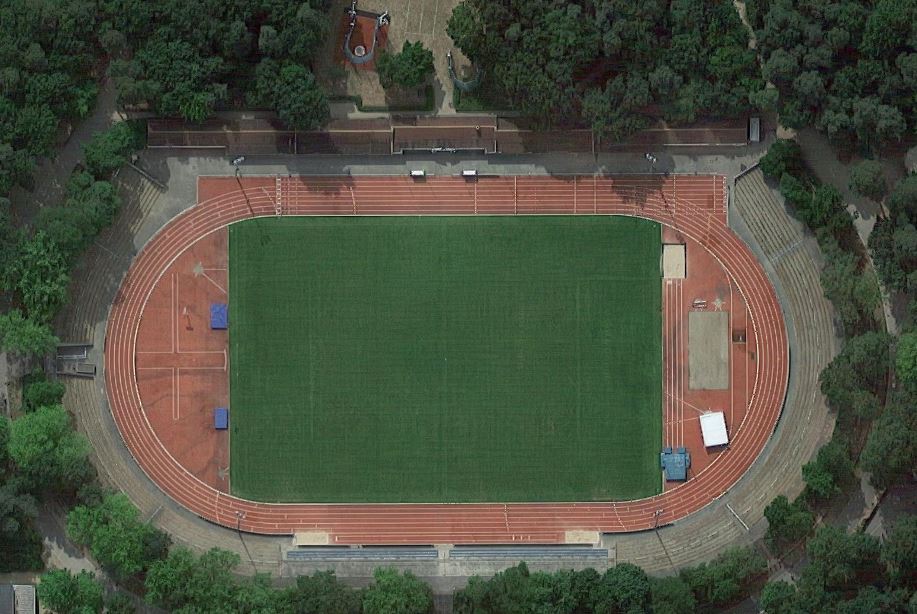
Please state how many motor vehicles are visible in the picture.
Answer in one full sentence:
The photo contains no motor vehicles.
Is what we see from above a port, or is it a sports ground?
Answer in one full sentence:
It's a sports ground.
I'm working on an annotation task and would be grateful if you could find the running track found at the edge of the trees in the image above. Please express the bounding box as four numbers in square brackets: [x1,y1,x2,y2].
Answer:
[104,176,787,545]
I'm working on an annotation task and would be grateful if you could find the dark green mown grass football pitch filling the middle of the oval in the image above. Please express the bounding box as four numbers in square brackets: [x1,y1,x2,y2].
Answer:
[228,217,664,503]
